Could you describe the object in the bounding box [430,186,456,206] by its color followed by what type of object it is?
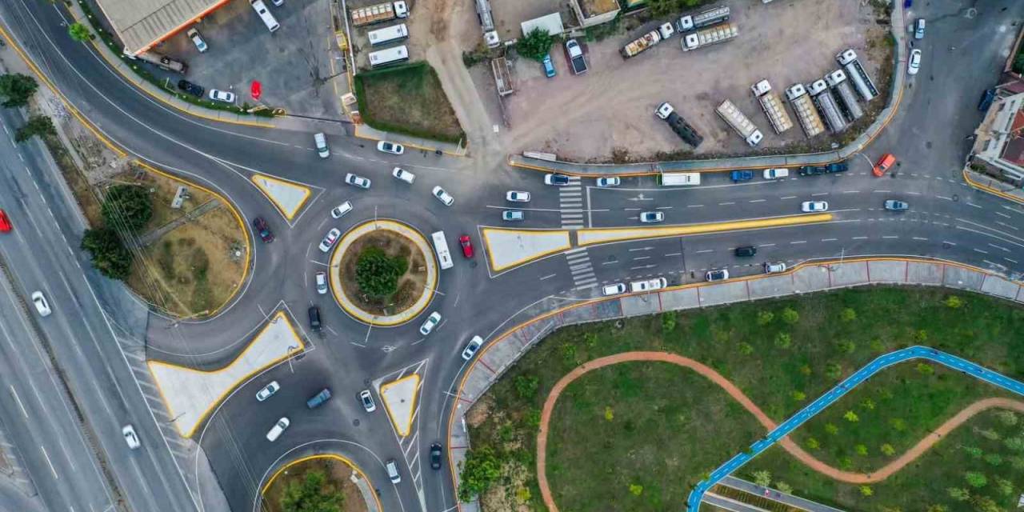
white car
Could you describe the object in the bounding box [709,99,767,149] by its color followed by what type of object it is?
white truck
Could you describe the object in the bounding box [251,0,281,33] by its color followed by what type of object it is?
white vehicle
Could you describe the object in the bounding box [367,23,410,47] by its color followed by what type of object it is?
white bus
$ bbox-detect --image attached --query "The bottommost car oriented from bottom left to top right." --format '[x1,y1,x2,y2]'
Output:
[265,416,291,443]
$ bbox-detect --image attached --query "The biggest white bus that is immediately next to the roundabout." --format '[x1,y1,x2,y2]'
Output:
[430,230,454,270]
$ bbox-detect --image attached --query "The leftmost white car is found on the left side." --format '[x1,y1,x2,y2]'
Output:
[33,291,54,318]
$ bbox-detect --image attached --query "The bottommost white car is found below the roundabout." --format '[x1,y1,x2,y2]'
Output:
[385,458,402,483]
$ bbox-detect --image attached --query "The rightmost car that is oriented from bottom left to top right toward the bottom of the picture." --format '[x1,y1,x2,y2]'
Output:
[461,335,484,360]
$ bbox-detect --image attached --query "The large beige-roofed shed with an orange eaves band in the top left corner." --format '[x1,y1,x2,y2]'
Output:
[95,0,242,60]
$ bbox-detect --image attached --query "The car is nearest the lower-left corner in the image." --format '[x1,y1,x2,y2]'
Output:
[123,423,143,450]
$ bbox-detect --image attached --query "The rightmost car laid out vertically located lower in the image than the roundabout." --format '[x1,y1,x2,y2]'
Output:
[429,442,442,469]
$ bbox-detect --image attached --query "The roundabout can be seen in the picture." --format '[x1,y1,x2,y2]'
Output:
[330,219,438,327]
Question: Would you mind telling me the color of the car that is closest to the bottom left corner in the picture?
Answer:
white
